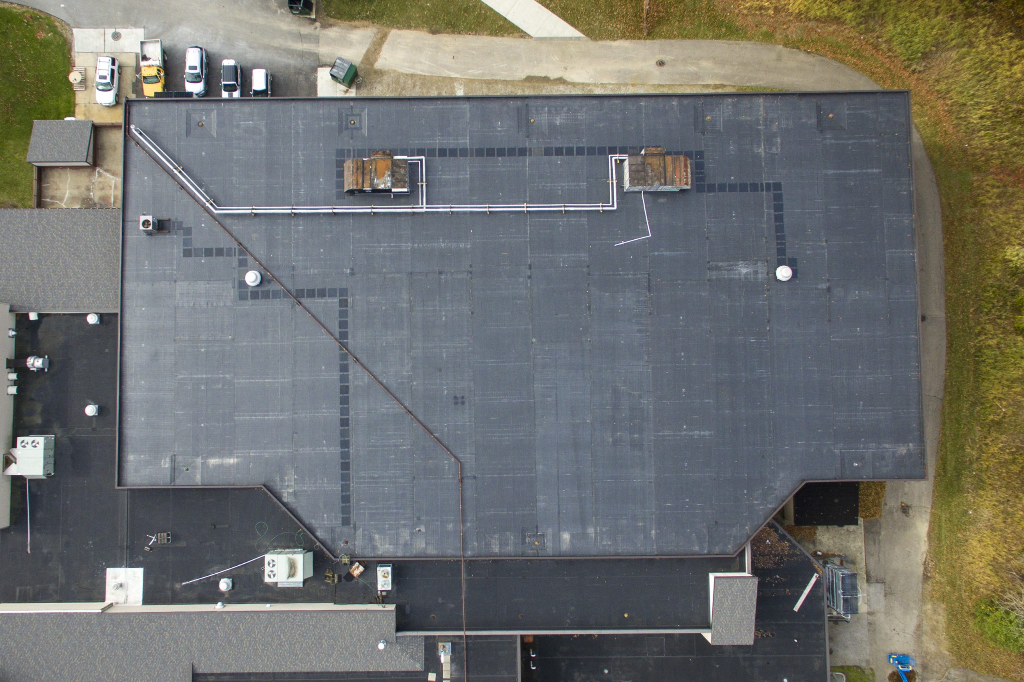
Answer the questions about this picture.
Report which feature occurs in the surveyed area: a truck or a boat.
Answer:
truck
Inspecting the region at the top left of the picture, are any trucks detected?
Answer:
Yes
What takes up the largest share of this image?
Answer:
buildings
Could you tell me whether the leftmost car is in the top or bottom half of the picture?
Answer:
top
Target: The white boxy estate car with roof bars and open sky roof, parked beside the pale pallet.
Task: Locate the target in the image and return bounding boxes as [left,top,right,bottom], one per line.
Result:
[90,53,122,107]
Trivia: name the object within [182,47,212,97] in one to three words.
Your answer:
car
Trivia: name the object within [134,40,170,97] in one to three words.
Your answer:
truck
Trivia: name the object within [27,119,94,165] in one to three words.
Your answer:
shed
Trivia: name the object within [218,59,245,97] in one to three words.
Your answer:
car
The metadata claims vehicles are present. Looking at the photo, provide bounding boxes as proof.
[182,47,212,97]
[90,53,122,107]
[251,68,275,97]
[218,59,245,97]
[134,40,170,97]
